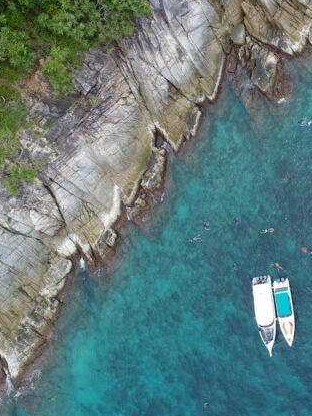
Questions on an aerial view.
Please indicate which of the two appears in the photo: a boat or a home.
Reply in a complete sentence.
The one in the frame is a boat.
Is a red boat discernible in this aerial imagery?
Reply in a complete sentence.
No, I find no red boat anywhere in the image.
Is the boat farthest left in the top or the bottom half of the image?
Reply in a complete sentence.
The bottom half of the photo is where the boat farthest left is.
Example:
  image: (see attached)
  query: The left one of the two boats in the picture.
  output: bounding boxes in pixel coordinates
[253,276,278,357]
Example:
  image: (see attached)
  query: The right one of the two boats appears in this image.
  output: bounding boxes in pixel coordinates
[274,278,294,346]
